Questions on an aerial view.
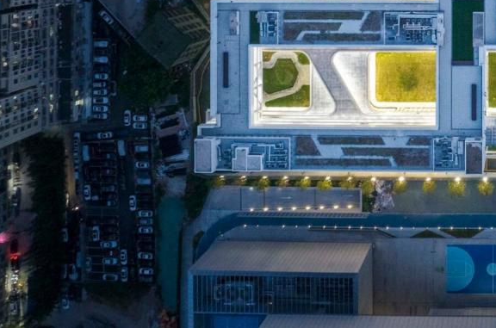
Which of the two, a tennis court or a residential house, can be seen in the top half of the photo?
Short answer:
residential house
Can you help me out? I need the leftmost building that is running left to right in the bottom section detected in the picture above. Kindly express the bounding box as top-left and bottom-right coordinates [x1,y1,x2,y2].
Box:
[187,241,371,328]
